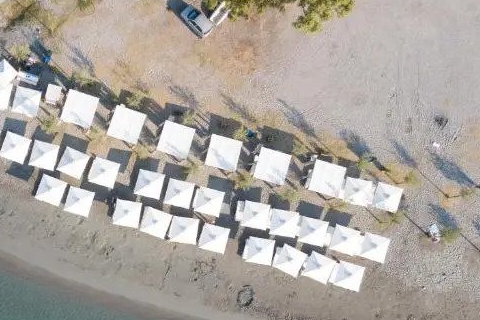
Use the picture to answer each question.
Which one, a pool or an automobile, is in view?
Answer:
automobile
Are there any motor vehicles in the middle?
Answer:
No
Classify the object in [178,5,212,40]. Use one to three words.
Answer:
car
